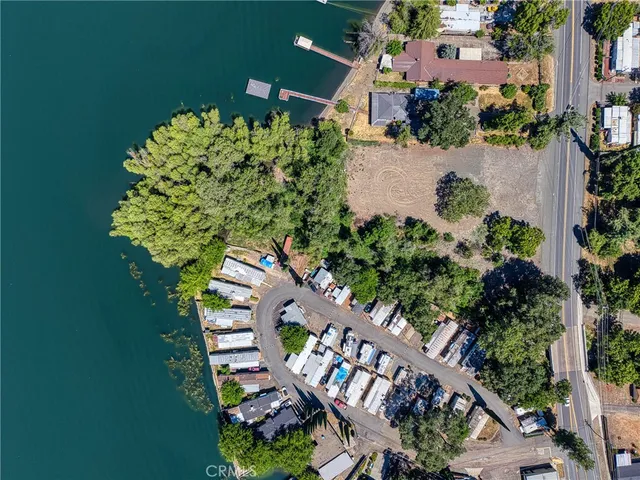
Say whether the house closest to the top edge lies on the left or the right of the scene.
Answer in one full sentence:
You can find the house closest to the top edge on the right side of the picture.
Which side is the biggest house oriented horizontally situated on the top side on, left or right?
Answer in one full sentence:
The biggest house oriented horizontally situated on the top side is on the right side of the image.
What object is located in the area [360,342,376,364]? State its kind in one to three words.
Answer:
camper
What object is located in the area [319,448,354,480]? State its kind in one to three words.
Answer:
barn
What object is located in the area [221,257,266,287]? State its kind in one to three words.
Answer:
house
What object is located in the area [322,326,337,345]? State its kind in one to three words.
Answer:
camper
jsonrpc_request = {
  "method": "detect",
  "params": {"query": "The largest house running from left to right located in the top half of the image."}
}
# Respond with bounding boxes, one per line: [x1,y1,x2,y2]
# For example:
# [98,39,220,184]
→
[392,39,509,86]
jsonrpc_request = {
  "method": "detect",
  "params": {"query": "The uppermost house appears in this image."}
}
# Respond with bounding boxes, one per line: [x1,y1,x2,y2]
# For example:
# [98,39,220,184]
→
[438,4,481,36]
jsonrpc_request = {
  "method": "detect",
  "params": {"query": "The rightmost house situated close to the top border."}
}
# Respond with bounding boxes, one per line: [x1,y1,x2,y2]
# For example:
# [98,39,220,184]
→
[611,22,640,74]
